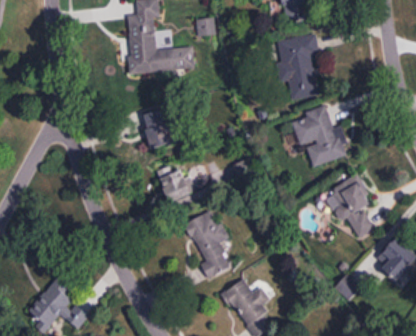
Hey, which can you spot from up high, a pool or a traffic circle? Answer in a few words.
pool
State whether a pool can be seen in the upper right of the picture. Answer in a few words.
No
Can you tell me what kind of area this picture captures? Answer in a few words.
residential area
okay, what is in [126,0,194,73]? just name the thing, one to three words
house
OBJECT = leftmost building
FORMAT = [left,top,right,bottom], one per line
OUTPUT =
[28,282,88,330]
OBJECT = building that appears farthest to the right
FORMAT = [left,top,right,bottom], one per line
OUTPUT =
[377,238,416,283]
